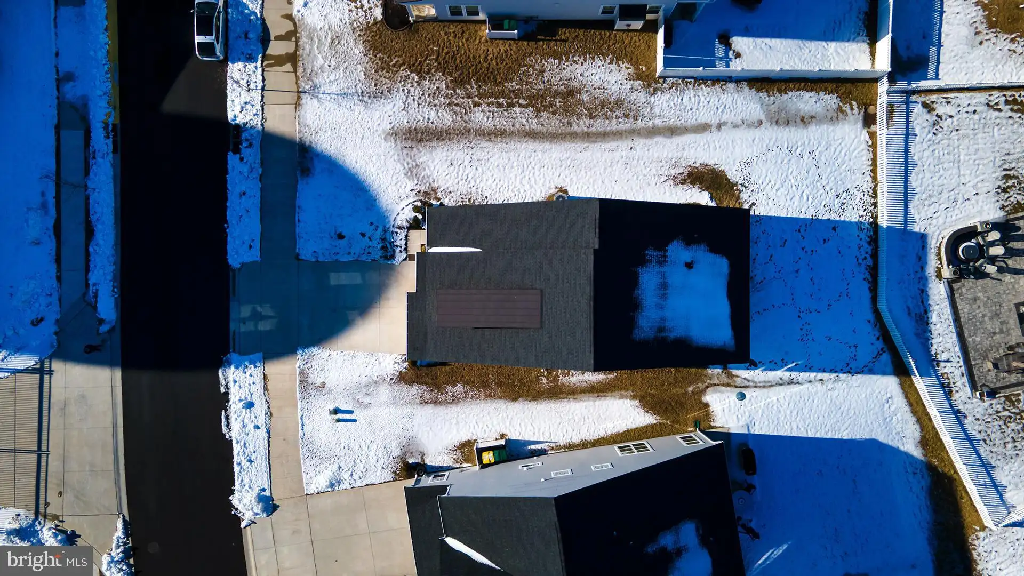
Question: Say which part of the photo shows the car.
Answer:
top left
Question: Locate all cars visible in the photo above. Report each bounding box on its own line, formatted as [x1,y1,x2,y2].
[194,0,231,61]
